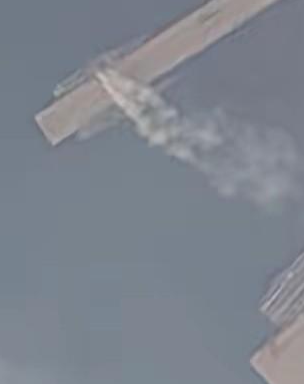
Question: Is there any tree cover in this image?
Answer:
No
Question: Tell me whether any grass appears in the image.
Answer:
No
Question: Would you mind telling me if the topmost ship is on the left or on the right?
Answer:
left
